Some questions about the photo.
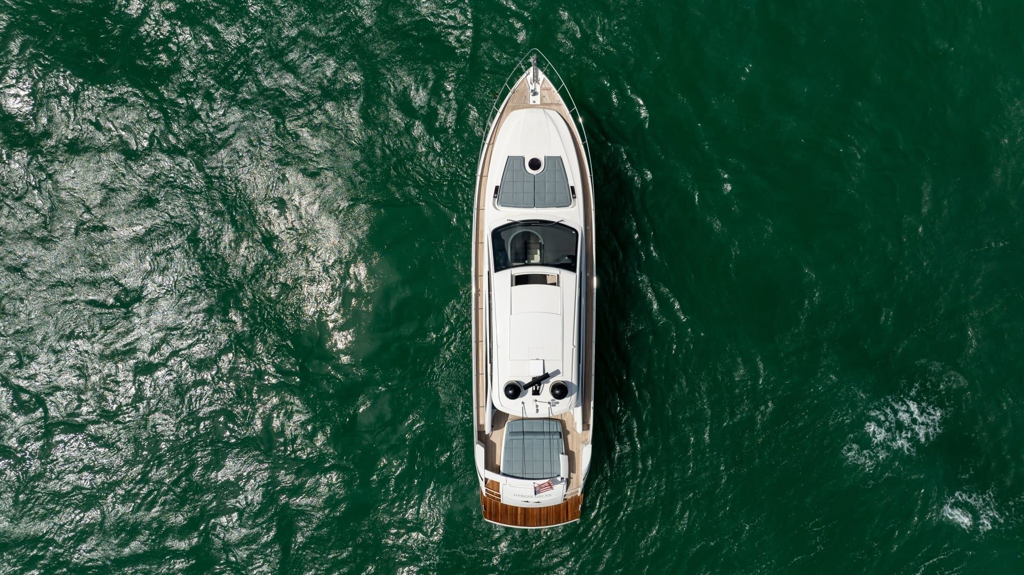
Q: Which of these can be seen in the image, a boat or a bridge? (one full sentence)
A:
Of the two, only a boat appears.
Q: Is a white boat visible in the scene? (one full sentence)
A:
Yes, a white boat appears in the view.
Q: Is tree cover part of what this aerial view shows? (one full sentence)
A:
No, tree cover can't be seen anywhere here.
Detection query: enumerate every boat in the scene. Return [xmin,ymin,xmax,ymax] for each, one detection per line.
[472,48,597,528]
